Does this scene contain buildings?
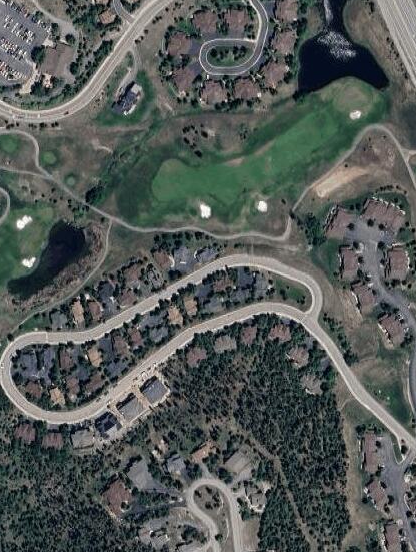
Yes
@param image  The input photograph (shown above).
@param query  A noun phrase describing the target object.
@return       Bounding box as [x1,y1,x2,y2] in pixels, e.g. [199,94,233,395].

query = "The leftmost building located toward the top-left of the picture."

[43,46,75,80]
